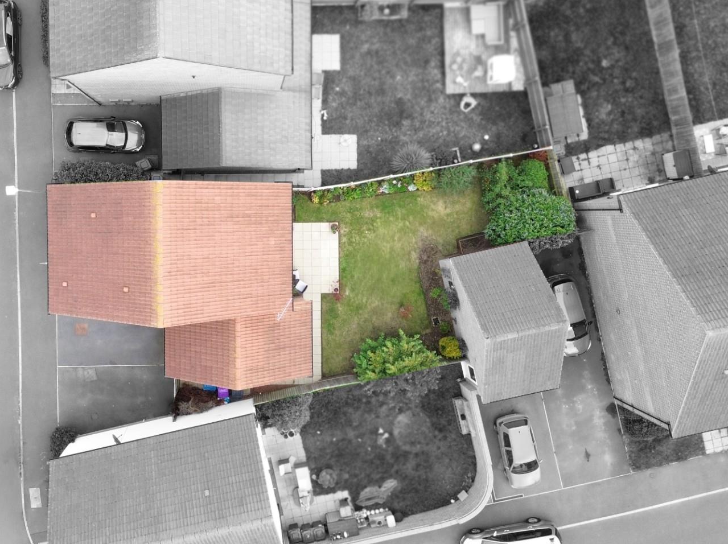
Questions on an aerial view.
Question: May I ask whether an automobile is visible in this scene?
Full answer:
Yes, an automobile appears in the view.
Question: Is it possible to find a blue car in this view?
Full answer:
No, no blue car is visible in the scene.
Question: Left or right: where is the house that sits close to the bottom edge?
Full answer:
It is on the left.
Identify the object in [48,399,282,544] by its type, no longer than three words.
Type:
house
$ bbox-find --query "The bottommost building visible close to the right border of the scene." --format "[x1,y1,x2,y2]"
[575,164,728,434]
